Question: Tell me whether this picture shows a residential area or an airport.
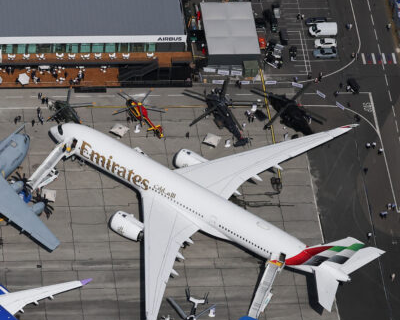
airport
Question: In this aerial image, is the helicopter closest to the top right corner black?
Yes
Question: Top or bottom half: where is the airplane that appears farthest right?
bottom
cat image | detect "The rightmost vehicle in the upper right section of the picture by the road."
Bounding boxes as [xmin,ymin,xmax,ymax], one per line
[344,77,363,94]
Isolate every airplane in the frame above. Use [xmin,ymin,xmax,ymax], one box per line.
[0,277,88,320]
[49,126,388,320]
[0,123,55,250]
